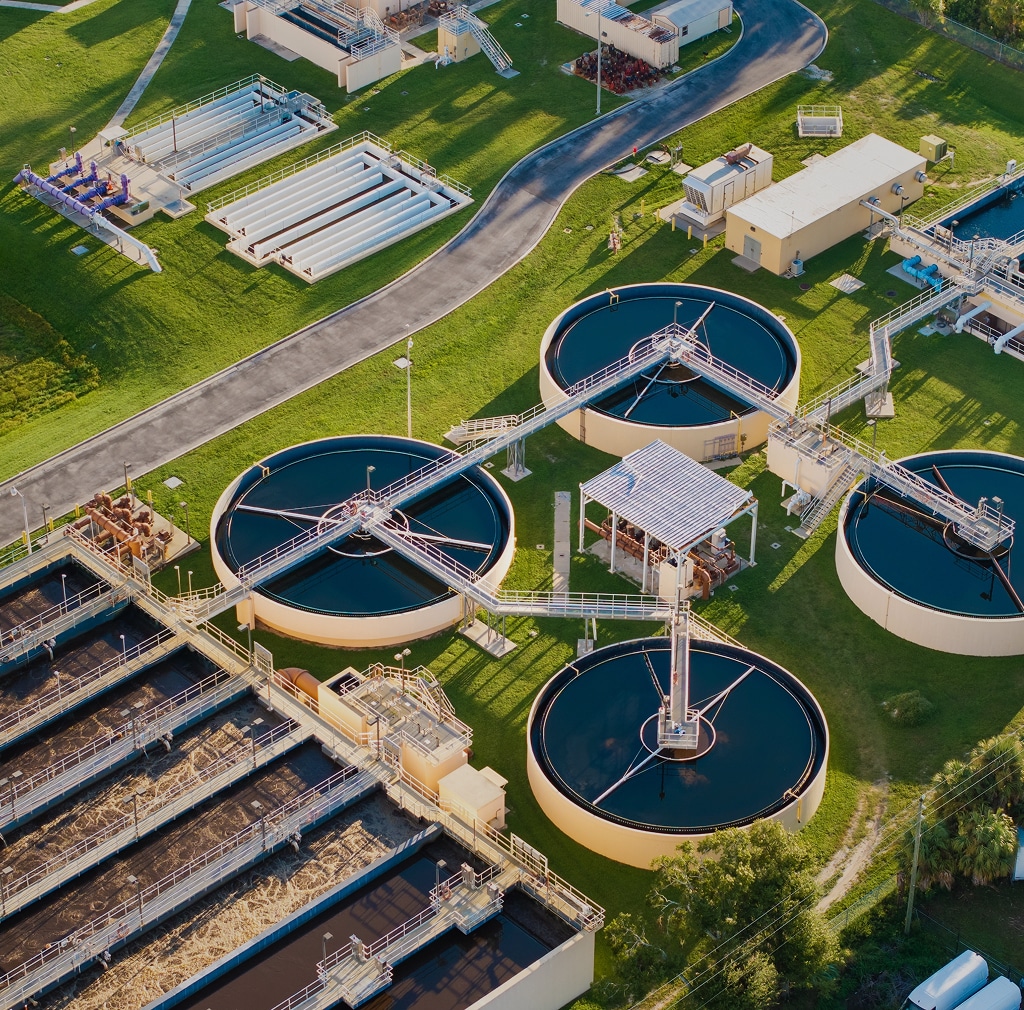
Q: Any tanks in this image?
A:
Yes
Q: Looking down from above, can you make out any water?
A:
Yes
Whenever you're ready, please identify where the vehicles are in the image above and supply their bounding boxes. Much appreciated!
[903,953,990,1010]
[959,979,1021,1010]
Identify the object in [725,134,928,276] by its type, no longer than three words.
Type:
building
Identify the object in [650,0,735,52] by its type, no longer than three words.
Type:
shed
